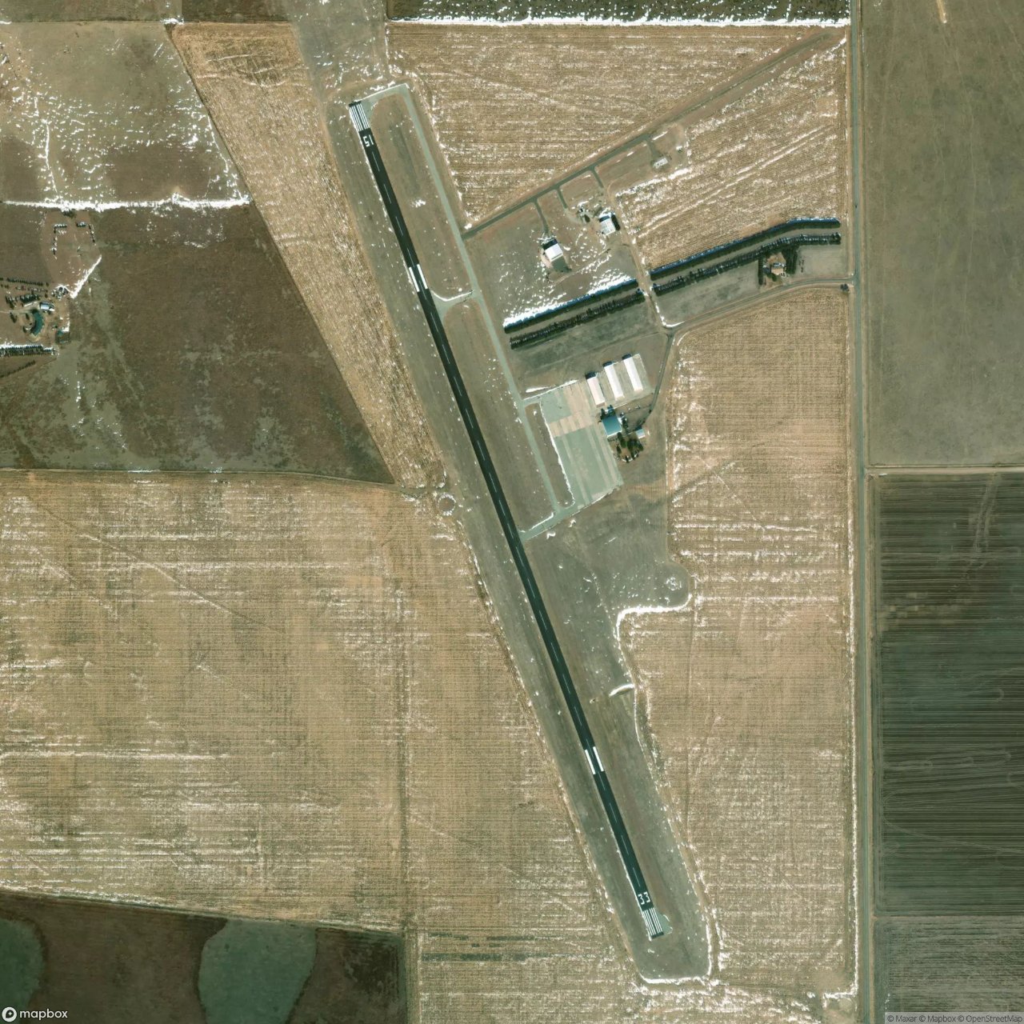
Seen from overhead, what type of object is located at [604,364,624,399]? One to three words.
hangar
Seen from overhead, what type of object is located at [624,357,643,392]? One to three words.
hangar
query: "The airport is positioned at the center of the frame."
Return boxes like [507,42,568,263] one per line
[349,83,671,939]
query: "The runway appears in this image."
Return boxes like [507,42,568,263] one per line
[349,101,664,939]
